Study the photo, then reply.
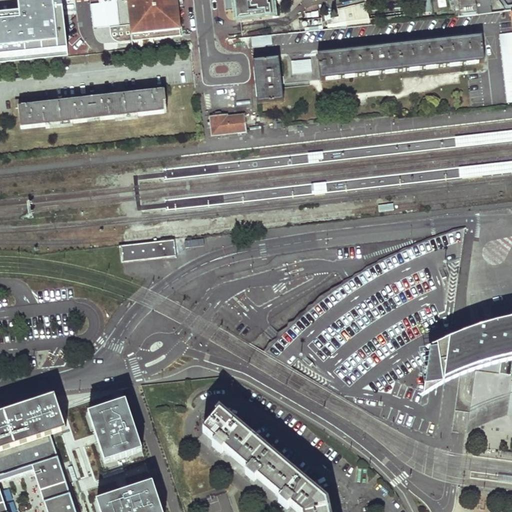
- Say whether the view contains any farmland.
No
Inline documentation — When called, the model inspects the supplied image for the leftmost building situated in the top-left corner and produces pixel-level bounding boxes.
[0,0,68,62]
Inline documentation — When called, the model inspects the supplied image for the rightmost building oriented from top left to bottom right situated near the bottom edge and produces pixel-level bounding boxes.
[201,404,331,512]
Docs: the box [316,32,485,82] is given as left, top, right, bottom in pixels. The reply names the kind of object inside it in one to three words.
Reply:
building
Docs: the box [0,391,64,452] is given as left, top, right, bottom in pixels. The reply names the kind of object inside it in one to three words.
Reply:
building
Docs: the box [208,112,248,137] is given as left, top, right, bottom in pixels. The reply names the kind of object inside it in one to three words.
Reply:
house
